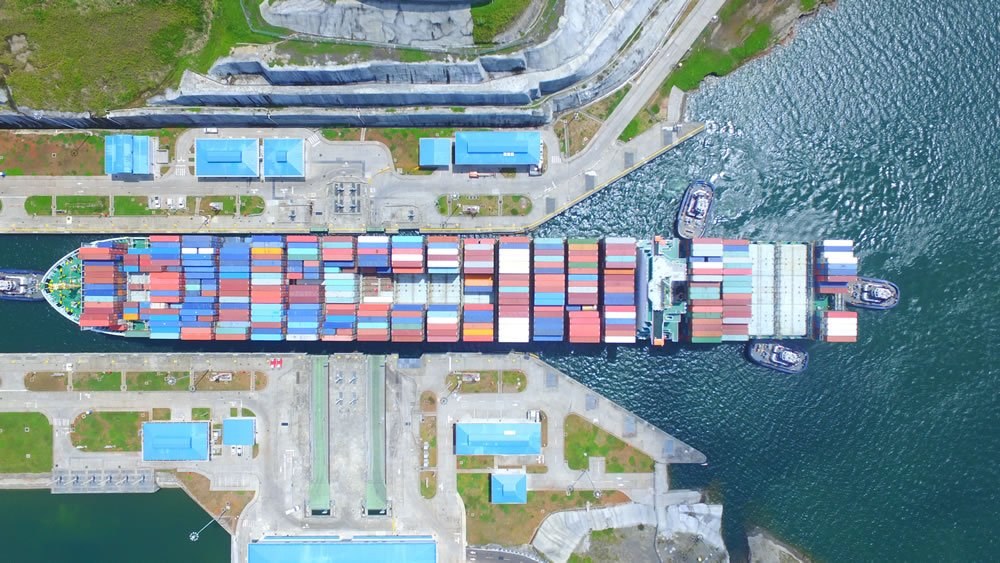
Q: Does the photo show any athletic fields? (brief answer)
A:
No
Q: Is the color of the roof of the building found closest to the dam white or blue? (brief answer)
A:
blue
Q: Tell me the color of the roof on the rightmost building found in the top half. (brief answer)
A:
blue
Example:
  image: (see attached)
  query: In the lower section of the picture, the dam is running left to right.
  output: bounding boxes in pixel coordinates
[52,465,161,494]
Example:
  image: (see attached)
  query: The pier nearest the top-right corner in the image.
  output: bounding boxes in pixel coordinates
[521,122,706,234]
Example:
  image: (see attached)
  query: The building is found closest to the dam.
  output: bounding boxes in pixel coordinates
[142,419,215,462]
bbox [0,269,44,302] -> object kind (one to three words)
boat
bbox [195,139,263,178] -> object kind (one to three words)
building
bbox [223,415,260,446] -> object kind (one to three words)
building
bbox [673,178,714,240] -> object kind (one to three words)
boat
